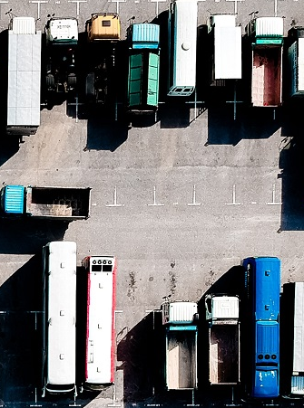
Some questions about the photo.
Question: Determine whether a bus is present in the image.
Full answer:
Yes, looking at the shot, I can spot a bus.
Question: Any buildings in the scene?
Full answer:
No, this view has no building in it.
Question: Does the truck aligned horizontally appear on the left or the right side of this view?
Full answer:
It is on the left.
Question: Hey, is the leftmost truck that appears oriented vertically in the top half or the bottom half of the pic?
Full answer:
The top half of the photo is where the leftmost truck that appears oriented vertically is.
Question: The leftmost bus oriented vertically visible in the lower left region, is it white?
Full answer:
Yes, white is the color of the leftmost bus oriented vertically visible in the lower left region.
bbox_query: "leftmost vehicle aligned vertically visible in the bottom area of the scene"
[41,240,77,395]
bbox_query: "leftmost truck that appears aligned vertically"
[4,10,40,133]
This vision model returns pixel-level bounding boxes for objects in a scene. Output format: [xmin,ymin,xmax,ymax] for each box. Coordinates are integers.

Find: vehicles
[240,256,281,404]
[79,256,116,394]
[283,20,304,99]
[202,7,241,86]
[281,282,304,397]
[159,293,200,390]
[203,289,240,385]
[122,16,163,119]
[243,10,286,110]
[0,182,90,221]
[41,240,77,395]
[164,0,198,106]
[43,12,81,92]
[4,10,40,133]
[81,6,122,103]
